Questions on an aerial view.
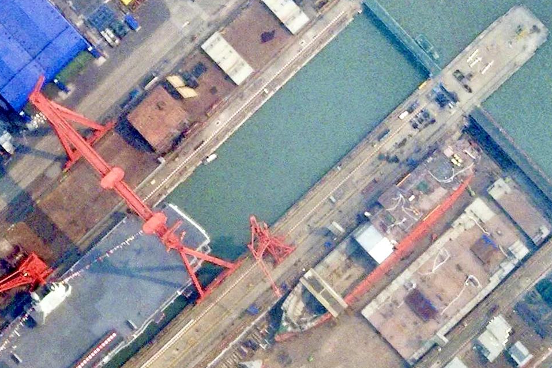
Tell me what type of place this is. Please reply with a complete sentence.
This image shows a port.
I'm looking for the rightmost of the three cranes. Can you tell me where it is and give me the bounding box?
[248,217,294,302]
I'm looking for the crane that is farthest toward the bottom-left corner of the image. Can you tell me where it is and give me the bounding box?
[0,251,57,292]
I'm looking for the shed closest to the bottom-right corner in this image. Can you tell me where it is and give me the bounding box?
[508,342,534,366]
